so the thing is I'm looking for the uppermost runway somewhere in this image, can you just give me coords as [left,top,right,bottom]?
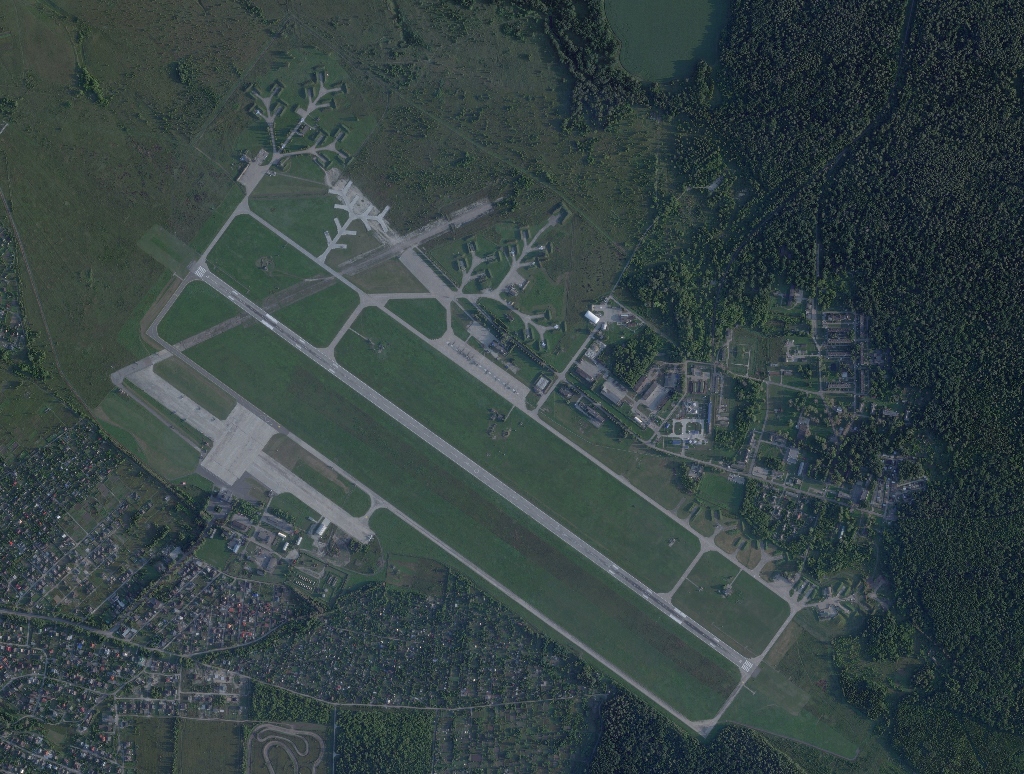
[338,198,493,276]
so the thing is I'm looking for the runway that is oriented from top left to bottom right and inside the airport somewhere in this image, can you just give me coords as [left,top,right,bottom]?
[192,264,756,674]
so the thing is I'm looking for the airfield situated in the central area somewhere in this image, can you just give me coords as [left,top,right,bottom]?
[111,72,854,738]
